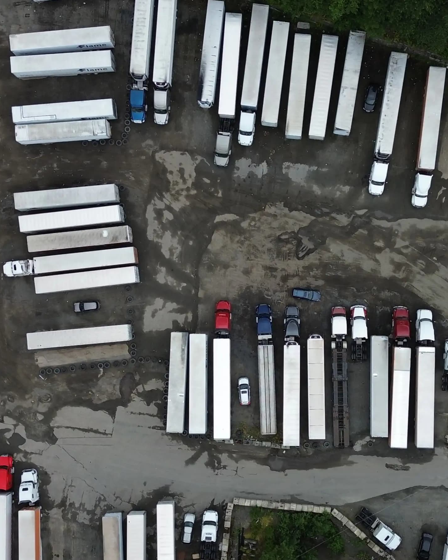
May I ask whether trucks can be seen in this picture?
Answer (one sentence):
Yes, the photo shows a truck.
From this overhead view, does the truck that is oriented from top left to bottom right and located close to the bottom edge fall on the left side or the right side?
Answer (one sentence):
The truck that is oriented from top left to bottom right and located close to the bottom edge is on the right side of the image.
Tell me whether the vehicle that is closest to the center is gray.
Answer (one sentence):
No, the vehicle that is closest to the center is actually red.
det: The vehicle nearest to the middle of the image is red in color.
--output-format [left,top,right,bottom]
[212,300,232,338]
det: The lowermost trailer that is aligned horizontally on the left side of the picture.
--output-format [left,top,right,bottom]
[27,324,133,349]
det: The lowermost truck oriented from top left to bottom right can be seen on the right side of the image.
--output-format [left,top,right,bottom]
[352,499,401,548]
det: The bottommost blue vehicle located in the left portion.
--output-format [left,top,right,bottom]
[127,78,149,124]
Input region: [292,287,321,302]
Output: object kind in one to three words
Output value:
car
